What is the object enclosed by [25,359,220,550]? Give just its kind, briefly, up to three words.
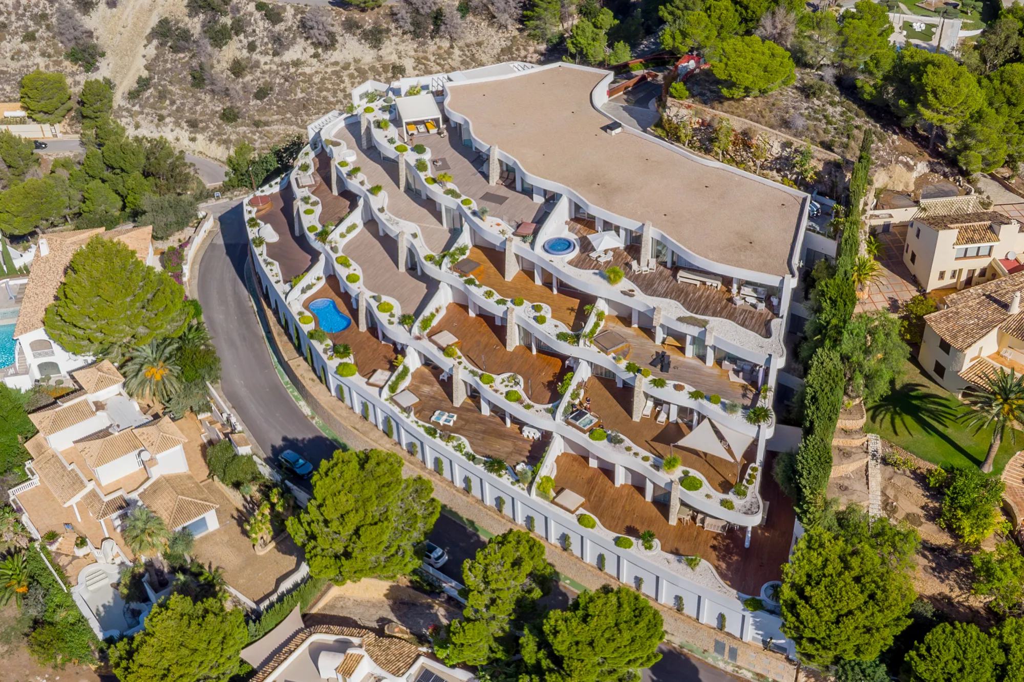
house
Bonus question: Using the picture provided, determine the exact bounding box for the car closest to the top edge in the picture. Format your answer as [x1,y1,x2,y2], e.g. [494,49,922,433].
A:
[17,140,51,153]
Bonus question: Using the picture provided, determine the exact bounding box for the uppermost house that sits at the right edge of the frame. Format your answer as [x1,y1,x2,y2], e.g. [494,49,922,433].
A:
[905,203,1024,306]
